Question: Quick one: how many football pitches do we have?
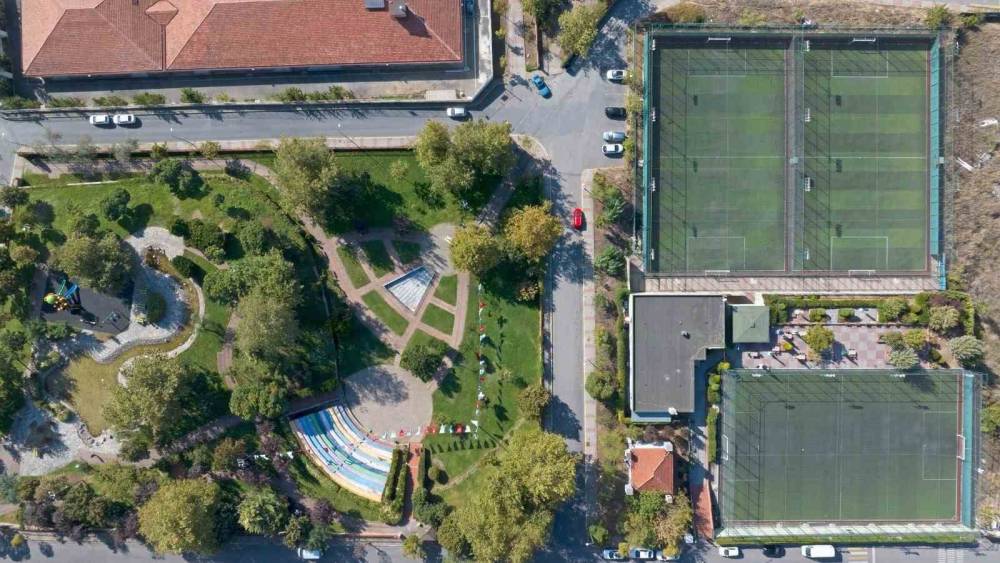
3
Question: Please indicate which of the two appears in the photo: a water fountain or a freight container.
water fountain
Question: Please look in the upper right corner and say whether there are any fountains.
No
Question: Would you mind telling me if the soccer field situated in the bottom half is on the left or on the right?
right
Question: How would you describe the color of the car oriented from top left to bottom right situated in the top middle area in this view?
blue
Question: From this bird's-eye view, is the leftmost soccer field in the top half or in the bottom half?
top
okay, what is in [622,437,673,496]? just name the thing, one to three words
house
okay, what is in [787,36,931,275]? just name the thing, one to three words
soccer field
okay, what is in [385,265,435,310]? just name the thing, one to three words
fountain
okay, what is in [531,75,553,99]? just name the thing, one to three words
car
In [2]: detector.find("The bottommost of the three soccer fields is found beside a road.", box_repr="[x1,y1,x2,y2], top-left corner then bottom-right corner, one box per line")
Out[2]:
[720,371,963,524]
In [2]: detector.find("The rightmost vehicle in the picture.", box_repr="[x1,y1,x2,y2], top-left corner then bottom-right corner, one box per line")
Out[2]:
[801,544,838,559]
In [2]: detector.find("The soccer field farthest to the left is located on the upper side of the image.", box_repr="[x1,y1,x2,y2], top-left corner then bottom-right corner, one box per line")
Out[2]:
[642,36,788,275]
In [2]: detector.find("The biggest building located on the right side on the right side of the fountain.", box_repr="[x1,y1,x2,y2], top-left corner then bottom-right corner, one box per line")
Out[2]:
[631,295,727,418]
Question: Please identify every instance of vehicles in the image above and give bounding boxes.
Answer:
[801,544,838,559]
[604,107,626,118]
[114,114,136,125]
[446,107,466,117]
[655,549,669,561]
[602,548,625,559]
[605,71,626,80]
[90,114,111,125]
[299,547,320,558]
[573,208,583,229]
[531,75,553,99]
[629,547,653,559]
[602,143,623,154]
[762,545,784,557]
[718,545,738,556]
[603,131,625,141]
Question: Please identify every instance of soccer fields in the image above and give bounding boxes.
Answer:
[787,36,931,275]
[642,36,788,275]
[720,371,963,524]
